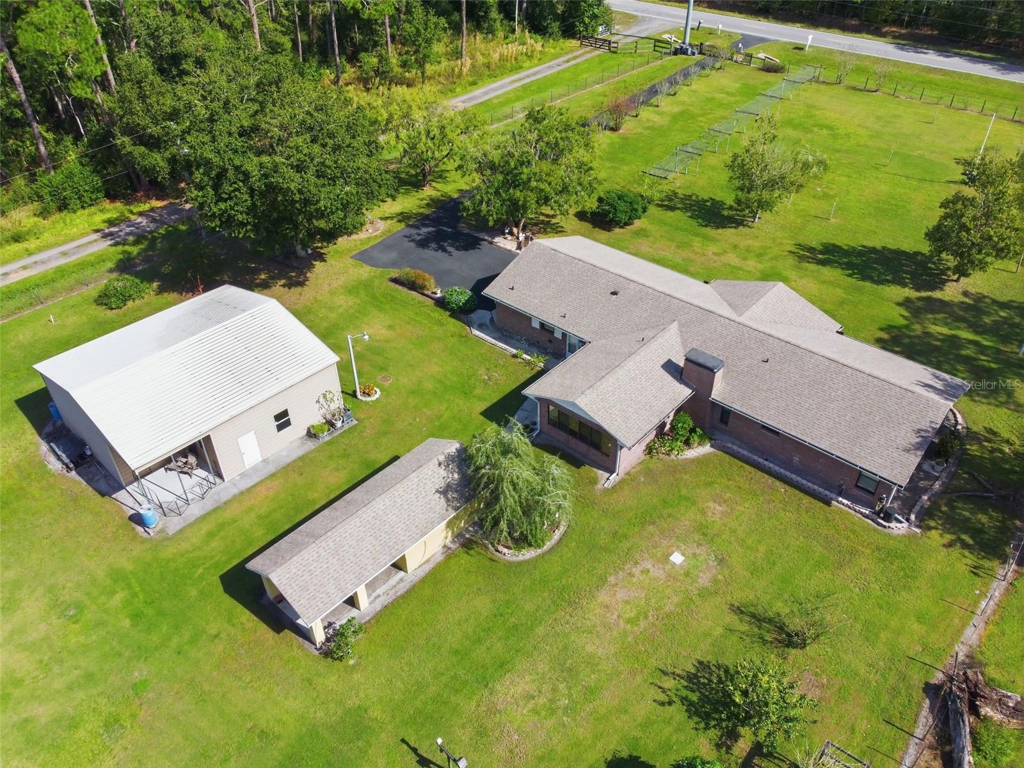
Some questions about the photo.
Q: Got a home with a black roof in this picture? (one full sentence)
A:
No, I can't see a single home with a black roof in this photo.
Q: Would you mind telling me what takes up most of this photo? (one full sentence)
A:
Most of the picture is covered by grass.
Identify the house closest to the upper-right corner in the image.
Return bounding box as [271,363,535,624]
[481,236,971,516]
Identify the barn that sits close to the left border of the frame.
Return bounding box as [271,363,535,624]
[30,282,348,515]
